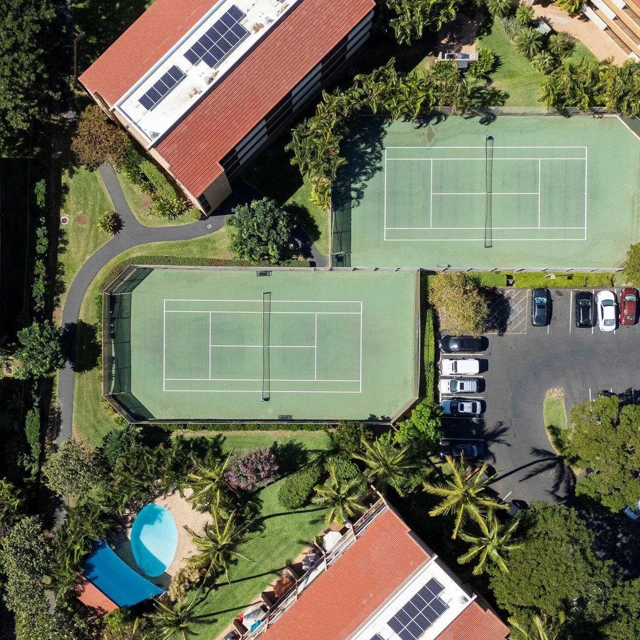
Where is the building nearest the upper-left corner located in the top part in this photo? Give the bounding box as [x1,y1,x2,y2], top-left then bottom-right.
[78,0,379,211]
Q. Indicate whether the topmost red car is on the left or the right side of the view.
right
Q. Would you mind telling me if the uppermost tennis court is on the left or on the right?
right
